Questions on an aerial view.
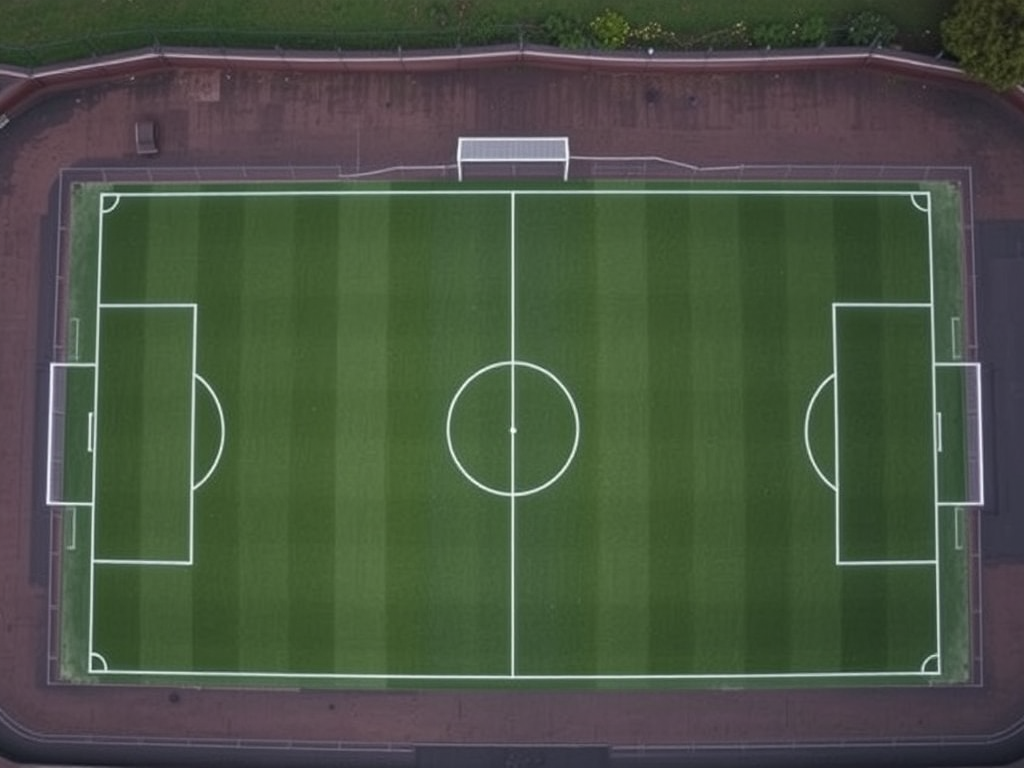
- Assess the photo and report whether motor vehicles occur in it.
No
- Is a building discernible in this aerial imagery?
No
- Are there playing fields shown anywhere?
Yes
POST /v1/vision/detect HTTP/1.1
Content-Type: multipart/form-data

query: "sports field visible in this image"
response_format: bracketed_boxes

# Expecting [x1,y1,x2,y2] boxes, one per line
[57,177,974,692]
